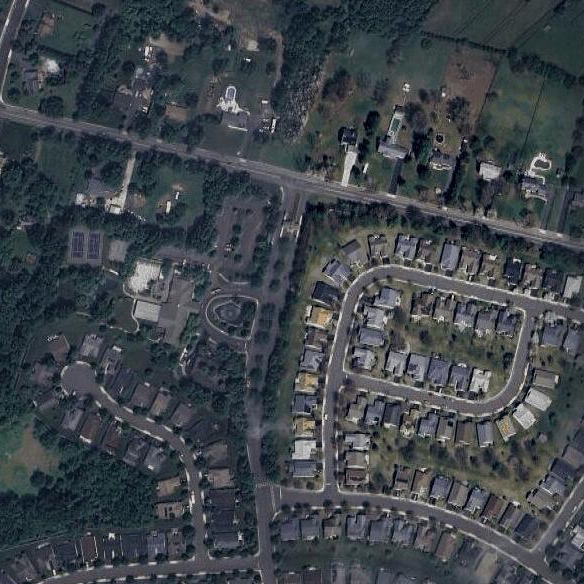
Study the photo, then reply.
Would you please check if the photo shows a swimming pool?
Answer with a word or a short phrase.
Yes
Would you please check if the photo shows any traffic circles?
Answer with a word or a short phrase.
Yes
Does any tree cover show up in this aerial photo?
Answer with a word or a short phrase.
Yes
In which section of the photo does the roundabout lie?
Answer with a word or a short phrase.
center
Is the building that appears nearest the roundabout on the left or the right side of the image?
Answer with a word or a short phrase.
left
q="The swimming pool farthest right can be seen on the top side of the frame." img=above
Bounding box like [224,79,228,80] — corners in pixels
[528,157,551,182]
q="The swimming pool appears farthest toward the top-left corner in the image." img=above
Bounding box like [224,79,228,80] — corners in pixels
[216,86,249,114]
